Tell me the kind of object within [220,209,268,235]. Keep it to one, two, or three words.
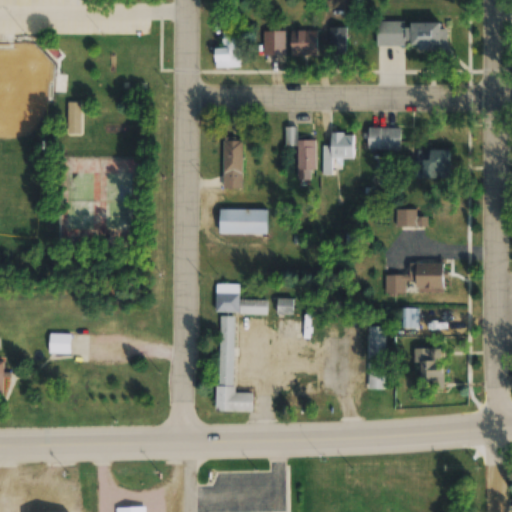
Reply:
building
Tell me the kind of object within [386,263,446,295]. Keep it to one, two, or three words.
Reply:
house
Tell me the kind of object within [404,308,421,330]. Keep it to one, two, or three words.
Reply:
shed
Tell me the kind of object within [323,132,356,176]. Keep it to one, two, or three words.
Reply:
house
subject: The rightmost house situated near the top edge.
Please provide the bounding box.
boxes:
[378,22,450,50]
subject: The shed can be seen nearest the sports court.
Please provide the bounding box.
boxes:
[68,102,84,136]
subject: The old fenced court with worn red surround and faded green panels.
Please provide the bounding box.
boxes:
[64,156,138,239]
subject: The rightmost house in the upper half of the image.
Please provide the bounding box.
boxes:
[424,150,452,179]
